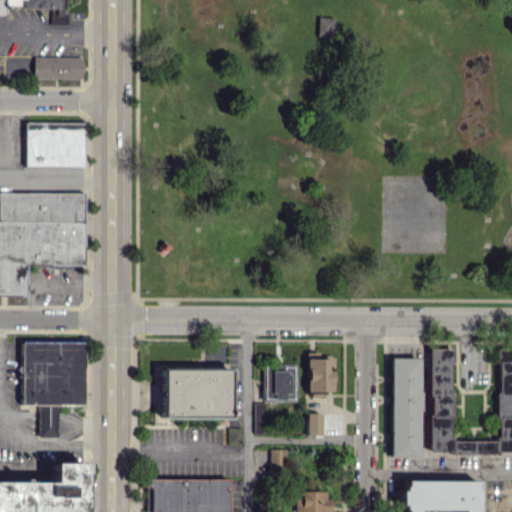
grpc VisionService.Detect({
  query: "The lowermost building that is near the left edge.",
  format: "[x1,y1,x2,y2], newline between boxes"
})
[0,464,96,512]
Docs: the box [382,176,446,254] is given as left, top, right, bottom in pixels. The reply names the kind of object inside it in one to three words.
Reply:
sports court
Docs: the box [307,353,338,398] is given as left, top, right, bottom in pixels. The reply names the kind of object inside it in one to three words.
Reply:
house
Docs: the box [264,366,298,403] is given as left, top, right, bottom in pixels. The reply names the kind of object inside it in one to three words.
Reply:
house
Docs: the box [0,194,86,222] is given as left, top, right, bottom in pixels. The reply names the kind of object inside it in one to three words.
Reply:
building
